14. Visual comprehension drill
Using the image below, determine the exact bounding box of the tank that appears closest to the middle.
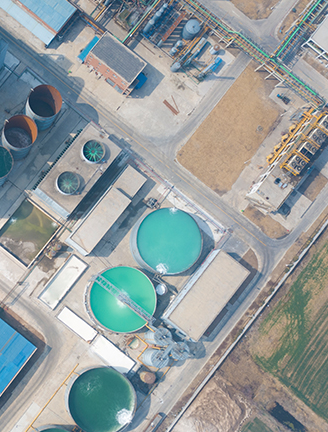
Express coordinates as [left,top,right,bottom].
[130,209,202,276]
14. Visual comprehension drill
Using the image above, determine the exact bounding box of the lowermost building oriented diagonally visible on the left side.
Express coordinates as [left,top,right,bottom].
[68,165,147,256]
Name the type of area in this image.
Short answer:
industrial area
